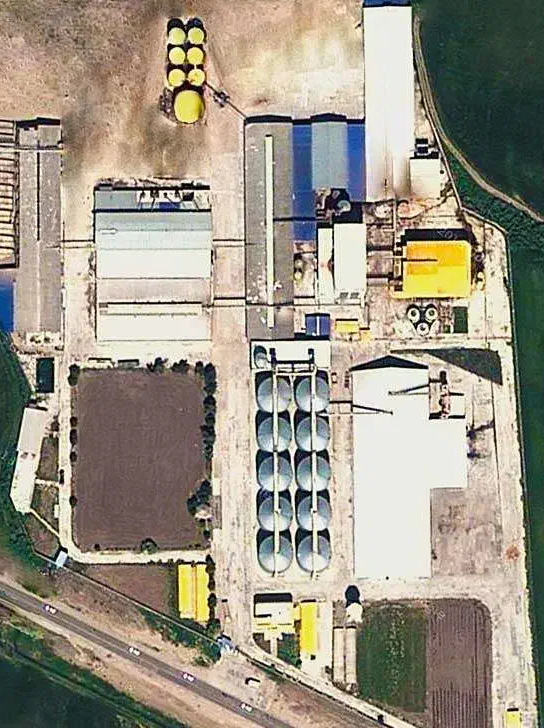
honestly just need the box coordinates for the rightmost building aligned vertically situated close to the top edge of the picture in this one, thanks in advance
[363,5,416,201]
